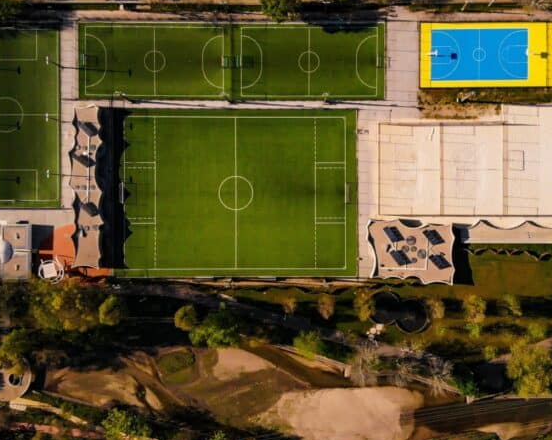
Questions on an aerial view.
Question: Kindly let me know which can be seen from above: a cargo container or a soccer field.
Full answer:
I can see a soccer field in this picture.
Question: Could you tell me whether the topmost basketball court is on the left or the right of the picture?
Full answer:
The topmost basketball court is on the right side of the image.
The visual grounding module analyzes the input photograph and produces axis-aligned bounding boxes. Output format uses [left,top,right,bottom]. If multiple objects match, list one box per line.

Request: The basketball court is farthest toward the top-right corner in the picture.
[420,23,552,87]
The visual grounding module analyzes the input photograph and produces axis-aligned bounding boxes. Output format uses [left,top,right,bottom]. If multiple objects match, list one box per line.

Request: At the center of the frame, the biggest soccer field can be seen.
[113,110,356,277]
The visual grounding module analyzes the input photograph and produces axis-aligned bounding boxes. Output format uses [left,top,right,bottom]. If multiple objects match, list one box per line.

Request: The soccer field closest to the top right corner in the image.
[232,23,386,100]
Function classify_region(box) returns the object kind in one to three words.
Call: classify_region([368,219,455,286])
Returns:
building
